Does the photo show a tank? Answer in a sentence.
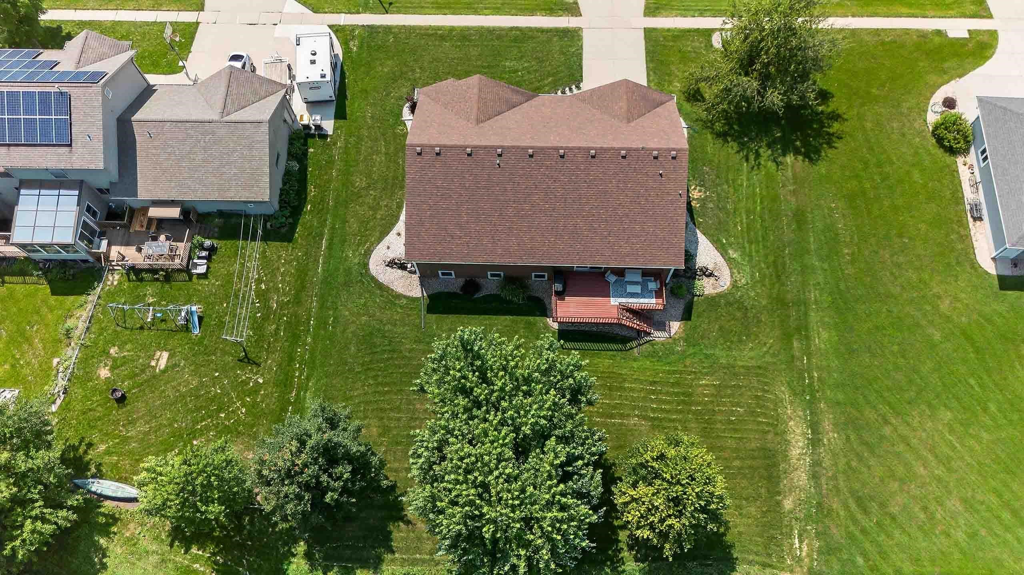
No, this view has no tank in it.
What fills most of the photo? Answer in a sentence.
For the most part, this view shows grass.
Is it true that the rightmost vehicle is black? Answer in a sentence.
No, the rightmost vehicle is actually white.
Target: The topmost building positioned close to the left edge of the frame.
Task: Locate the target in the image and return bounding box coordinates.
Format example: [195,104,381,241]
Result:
[0,30,295,216]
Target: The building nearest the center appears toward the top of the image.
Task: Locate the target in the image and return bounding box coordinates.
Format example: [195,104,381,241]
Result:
[403,74,688,284]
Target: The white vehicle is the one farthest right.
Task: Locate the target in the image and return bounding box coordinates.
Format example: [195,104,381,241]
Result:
[293,34,341,107]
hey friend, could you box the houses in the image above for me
[965,95,1024,280]
[403,74,688,284]
[0,30,295,216]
